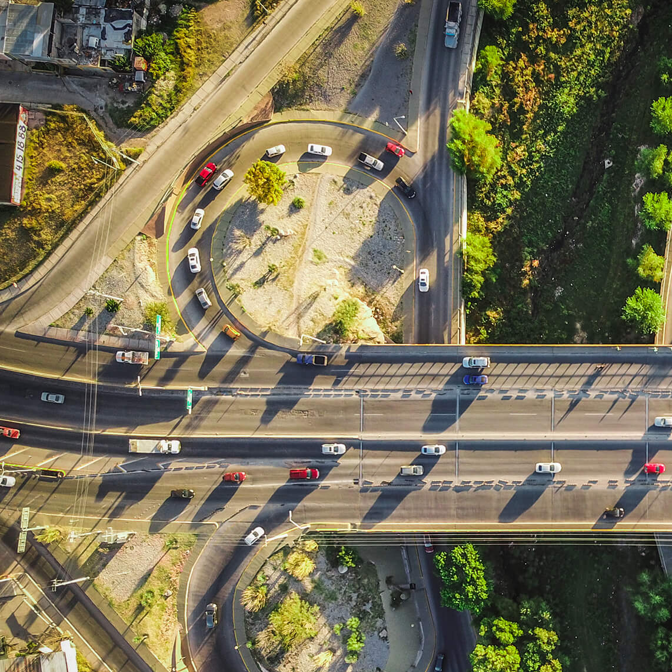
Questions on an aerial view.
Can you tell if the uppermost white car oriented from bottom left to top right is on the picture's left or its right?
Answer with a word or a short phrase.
left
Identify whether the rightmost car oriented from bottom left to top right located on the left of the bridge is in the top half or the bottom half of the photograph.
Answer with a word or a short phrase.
bottom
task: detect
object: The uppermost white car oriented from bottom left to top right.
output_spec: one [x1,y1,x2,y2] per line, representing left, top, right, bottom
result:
[212,169,234,191]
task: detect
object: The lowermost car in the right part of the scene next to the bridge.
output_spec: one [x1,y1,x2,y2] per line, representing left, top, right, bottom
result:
[423,533,435,557]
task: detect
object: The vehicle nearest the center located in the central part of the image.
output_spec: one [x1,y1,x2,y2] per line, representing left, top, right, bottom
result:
[298,353,328,365]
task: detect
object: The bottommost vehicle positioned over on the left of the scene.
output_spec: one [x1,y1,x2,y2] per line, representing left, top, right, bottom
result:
[205,604,218,628]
